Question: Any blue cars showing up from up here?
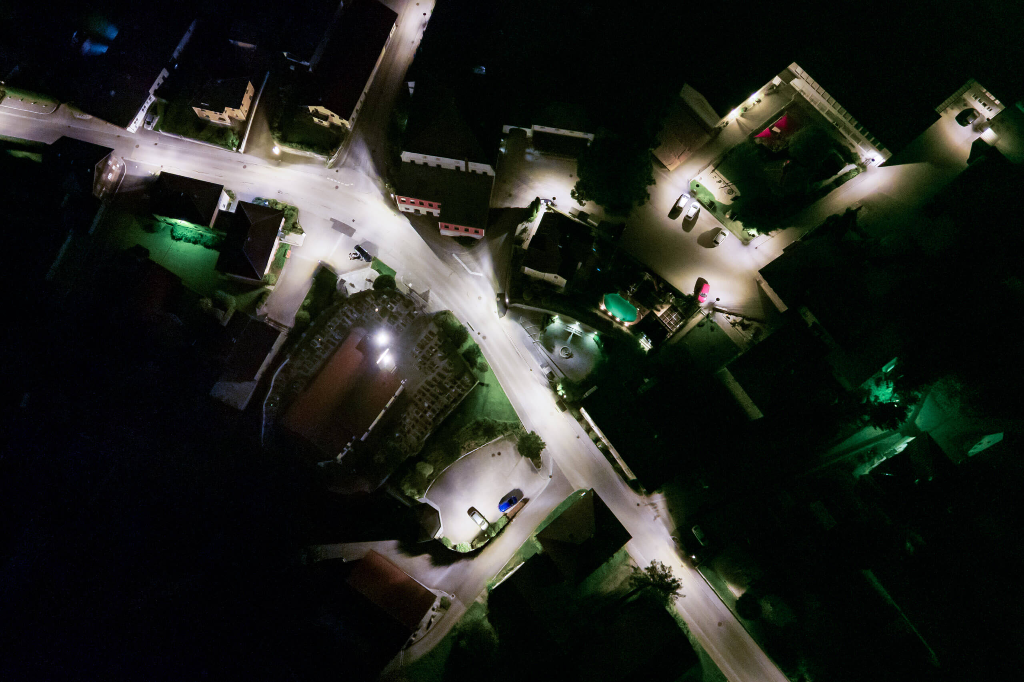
Yes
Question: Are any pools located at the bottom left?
No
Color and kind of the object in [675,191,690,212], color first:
white vehicle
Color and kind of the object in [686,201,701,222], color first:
white vehicle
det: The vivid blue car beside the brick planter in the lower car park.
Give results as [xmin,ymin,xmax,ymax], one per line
[496,494,519,514]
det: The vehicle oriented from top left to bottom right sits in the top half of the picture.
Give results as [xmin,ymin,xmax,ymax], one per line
[354,243,373,263]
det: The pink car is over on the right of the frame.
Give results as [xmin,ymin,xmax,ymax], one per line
[697,282,711,304]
